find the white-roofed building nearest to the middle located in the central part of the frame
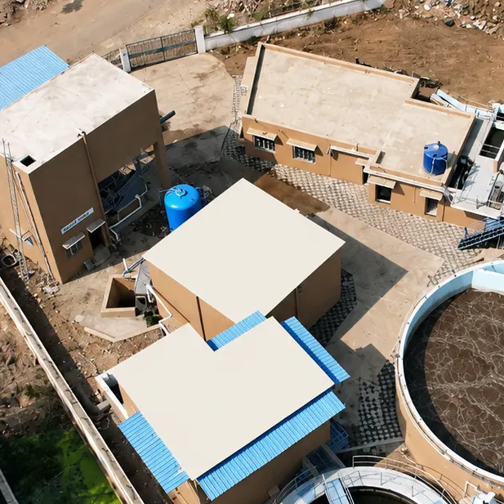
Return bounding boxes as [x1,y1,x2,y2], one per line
[144,179,346,348]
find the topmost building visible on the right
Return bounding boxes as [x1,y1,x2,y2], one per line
[240,40,471,226]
